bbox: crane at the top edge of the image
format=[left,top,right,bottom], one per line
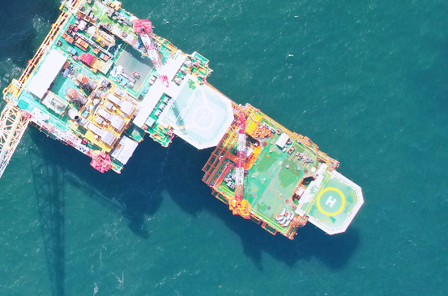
[126,13,169,85]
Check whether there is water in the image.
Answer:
Yes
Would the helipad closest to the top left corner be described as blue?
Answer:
No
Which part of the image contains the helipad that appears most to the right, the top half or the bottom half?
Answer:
bottom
